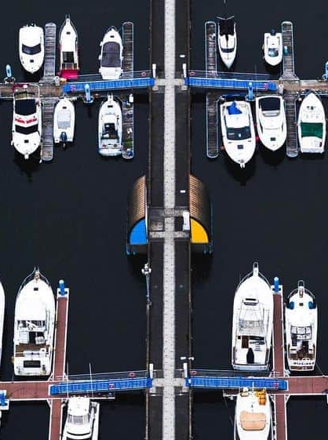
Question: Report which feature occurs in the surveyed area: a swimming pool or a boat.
boat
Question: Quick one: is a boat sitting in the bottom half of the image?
Yes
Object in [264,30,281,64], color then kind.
white boat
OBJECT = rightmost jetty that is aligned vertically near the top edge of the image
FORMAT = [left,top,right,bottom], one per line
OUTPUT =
[274,22,302,79]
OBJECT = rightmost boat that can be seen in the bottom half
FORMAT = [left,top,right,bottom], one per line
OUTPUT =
[285,284,318,378]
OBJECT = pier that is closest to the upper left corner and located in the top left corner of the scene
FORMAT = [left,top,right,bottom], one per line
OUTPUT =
[33,23,63,84]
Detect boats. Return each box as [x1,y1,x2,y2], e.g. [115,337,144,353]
[14,267,56,389]
[59,391,96,440]
[264,30,281,64]
[11,80,41,157]
[54,97,78,145]
[20,23,47,82]
[297,90,326,150]
[234,392,273,440]
[233,266,274,378]
[285,284,318,378]
[221,95,257,167]
[217,0,237,78]
[59,17,78,78]
[98,98,122,156]
[258,93,287,151]
[99,27,123,81]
